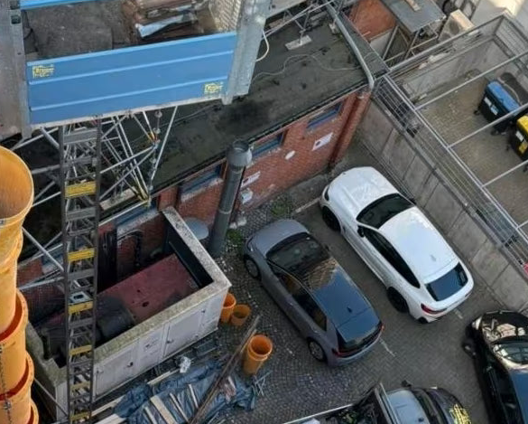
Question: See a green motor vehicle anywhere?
No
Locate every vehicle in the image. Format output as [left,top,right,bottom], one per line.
[245,219,388,378]
[276,366,478,424]
[456,313,528,424]
[310,168,471,332]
